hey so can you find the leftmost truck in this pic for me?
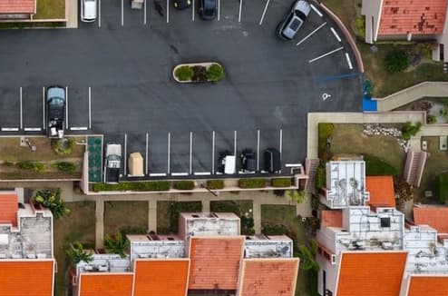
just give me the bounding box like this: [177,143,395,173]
[45,85,66,138]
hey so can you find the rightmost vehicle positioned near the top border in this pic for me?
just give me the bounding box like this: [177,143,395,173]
[276,0,309,40]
